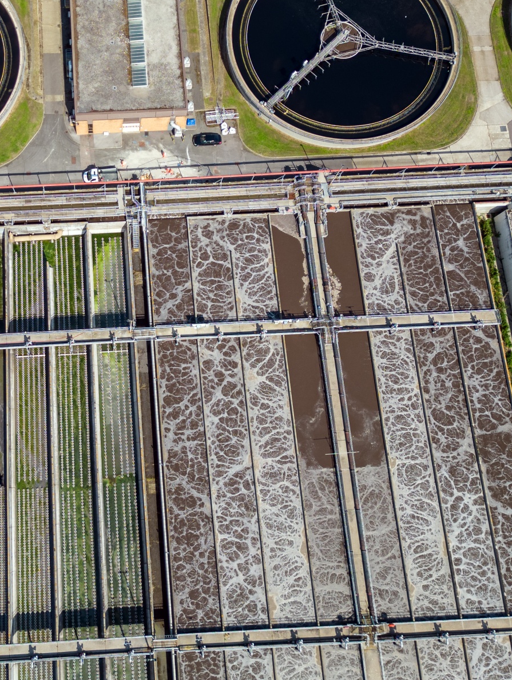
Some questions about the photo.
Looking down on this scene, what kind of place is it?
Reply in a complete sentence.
It's an industrial area.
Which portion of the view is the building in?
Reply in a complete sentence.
The building is located in the top left region of the scene.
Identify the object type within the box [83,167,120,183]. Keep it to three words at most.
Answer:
vehicle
